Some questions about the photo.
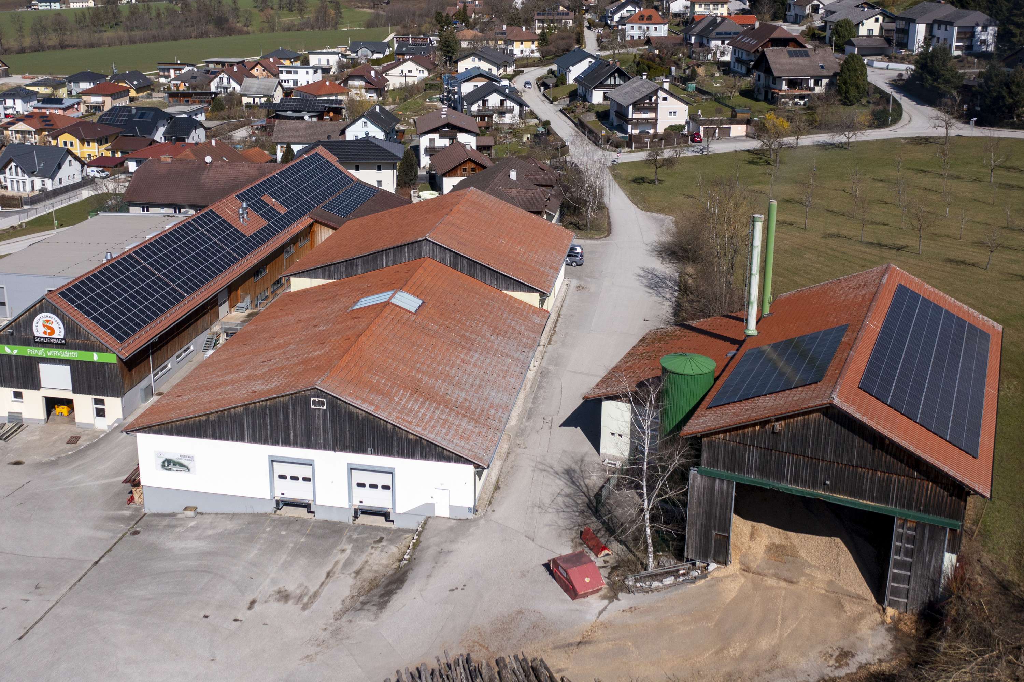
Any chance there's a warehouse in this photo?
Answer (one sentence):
Yes, this view includes a warehouse.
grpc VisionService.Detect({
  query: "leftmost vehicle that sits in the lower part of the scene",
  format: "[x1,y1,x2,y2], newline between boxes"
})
[62,403,76,421]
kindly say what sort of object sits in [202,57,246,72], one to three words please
house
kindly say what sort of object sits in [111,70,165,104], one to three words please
house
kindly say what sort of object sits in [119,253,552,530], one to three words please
warehouse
